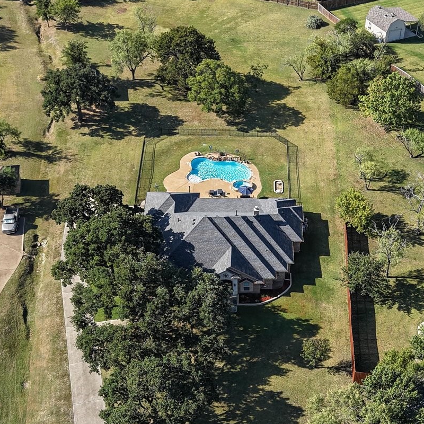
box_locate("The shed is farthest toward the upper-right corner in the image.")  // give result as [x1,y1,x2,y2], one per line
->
[364,1,422,42]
